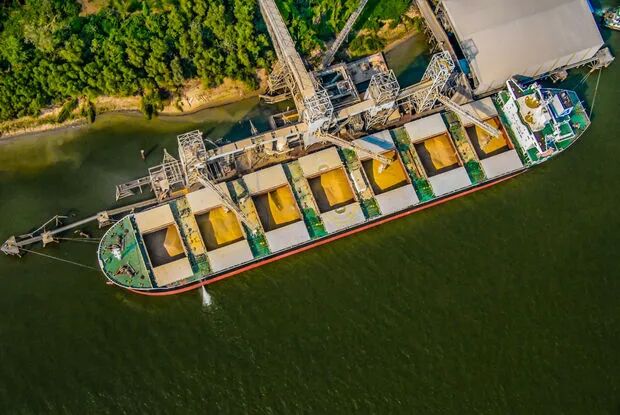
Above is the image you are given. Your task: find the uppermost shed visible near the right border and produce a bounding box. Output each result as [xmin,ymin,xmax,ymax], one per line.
[435,0,605,95]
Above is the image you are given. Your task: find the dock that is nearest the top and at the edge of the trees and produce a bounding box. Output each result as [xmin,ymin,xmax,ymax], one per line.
[287,66,364,115]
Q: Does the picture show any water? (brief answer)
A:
Yes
